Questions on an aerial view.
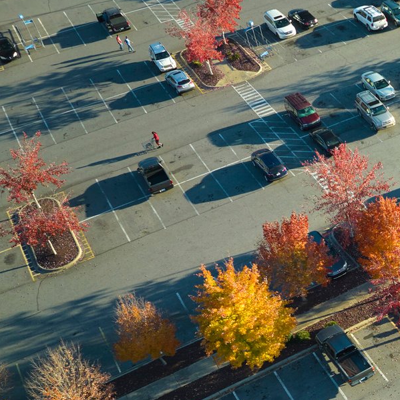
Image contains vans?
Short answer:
Yes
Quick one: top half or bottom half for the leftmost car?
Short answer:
top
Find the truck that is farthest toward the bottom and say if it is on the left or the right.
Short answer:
right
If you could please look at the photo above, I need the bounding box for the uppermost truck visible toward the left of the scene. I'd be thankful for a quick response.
[98,6,133,36]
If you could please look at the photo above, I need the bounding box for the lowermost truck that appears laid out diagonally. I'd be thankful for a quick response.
[314,323,383,396]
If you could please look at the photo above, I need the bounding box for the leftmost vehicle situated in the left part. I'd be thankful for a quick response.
[0,38,24,65]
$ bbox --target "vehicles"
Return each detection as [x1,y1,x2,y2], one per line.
[314,323,383,396]
[146,41,181,75]
[250,148,290,186]
[356,90,397,130]
[306,124,348,159]
[359,70,400,102]
[280,90,323,133]
[0,38,24,65]
[288,8,321,32]
[131,150,175,197]
[376,0,400,27]
[355,6,390,33]
[262,8,299,40]
[165,70,196,97]
[98,6,133,36]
